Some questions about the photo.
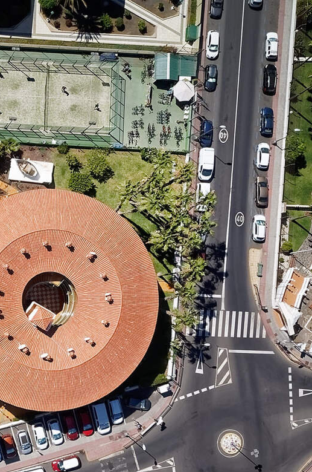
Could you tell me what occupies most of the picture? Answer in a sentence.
Most of the picture is covered by paved ground.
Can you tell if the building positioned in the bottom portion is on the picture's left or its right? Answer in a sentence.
You can find the building positioned in the bottom portion on the left side of the picture.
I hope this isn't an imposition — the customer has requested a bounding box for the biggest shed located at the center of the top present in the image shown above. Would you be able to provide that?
[150,52,197,84]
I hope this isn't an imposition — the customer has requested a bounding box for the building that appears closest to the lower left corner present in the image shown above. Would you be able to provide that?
[0,189,159,410]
